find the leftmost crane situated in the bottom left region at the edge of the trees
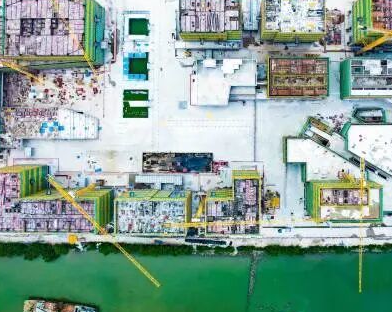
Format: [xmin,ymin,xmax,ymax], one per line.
[46,175,161,287]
